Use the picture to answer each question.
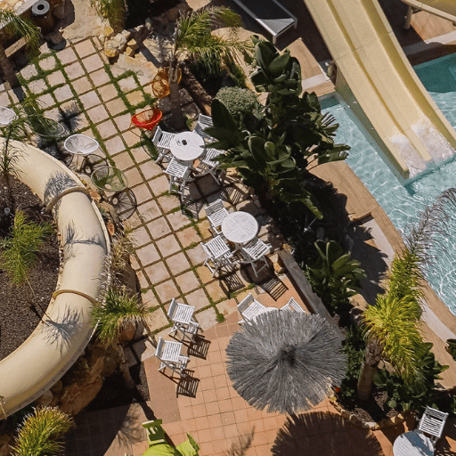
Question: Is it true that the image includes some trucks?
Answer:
No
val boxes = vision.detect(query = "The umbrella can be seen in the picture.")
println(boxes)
[223,309,350,428]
